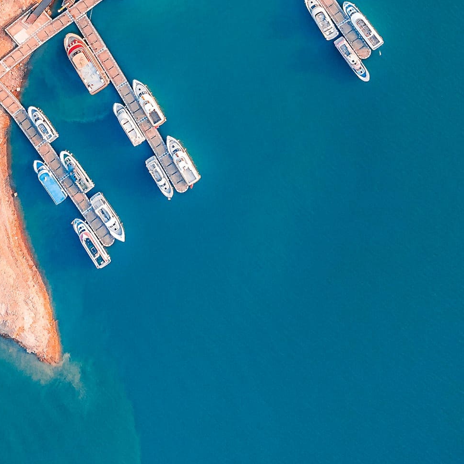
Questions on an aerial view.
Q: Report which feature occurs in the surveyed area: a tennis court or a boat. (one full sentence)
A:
There is a boat in the scene.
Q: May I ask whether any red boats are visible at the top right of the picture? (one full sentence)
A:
No, there is no red boat at the top right of the picture.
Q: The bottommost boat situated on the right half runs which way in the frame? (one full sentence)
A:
I'd say the bottommost boat situated on the right half is aligned diagonally in the picture.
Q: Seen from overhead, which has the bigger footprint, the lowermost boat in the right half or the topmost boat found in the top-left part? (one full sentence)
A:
Compared with the lowermost boat in the right half, the topmost boat found in the top-left part is the larger one.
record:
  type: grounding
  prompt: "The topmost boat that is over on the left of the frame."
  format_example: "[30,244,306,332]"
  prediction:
[67,35,108,95]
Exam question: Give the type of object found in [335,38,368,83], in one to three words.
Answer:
boat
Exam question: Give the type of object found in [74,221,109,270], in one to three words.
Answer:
boat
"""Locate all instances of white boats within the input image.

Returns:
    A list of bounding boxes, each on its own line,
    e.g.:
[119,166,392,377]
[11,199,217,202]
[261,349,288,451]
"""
[306,0,338,41]
[74,221,109,270]
[114,104,144,146]
[345,2,384,50]
[146,158,171,200]
[133,82,164,127]
[29,108,58,143]
[90,193,123,243]
[61,153,95,193]
[168,138,199,185]
[67,35,108,95]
